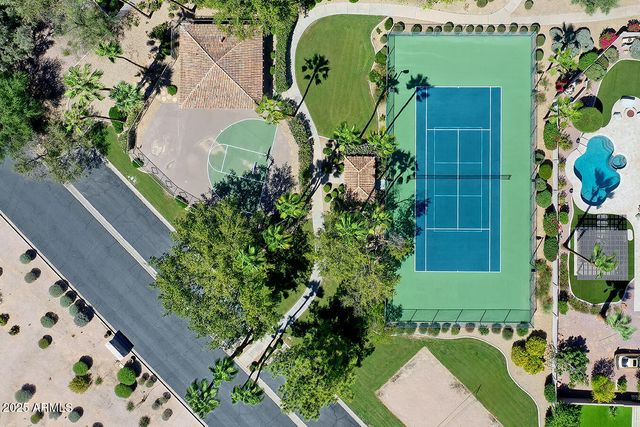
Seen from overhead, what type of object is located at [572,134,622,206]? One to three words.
swimming pool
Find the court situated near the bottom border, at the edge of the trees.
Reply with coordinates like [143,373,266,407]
[375,346,503,427]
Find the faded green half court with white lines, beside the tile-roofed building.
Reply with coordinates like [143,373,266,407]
[206,119,278,210]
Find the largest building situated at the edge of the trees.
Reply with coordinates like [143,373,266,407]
[179,23,264,109]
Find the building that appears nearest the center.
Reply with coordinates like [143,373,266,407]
[343,154,376,199]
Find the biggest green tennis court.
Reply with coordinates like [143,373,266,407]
[387,35,531,322]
